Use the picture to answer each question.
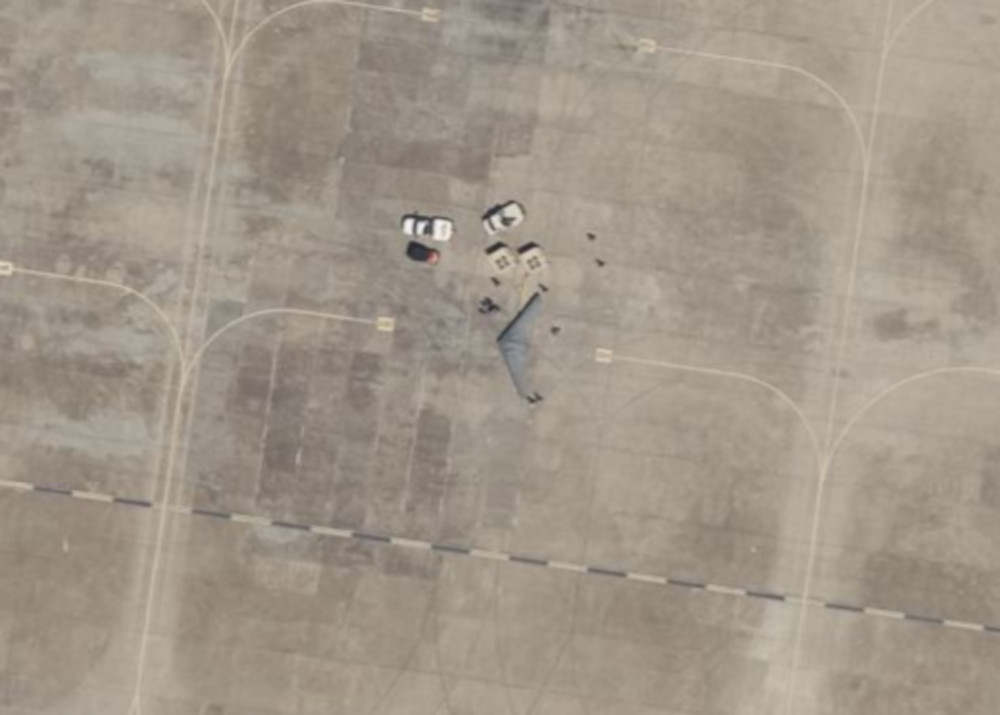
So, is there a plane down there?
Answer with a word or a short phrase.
Yes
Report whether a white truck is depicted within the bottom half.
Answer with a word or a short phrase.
No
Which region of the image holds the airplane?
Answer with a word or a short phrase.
center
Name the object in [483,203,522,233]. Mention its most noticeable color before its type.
white truck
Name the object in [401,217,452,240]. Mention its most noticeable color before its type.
white truck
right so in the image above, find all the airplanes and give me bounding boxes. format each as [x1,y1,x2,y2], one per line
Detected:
[498,293,545,400]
